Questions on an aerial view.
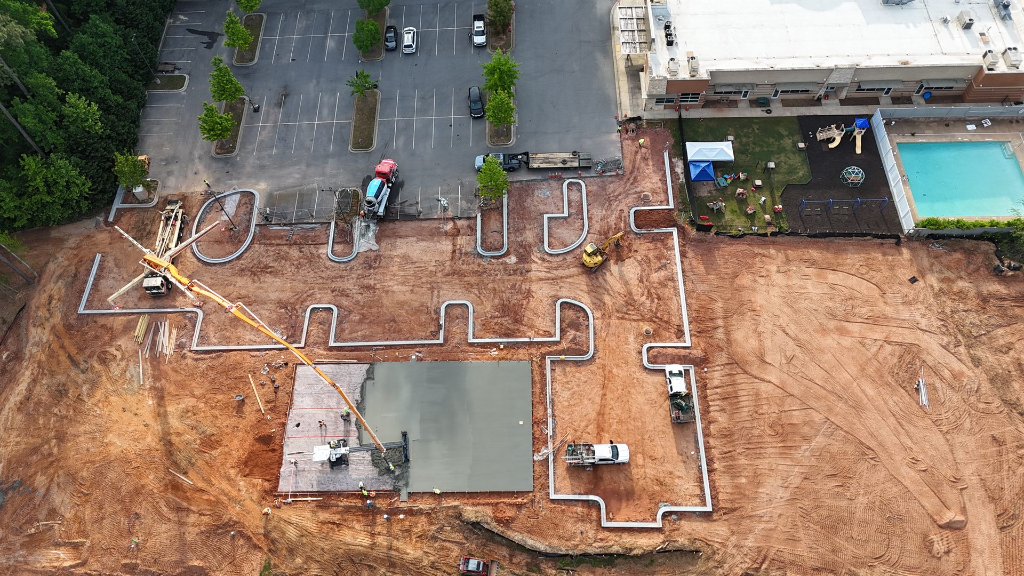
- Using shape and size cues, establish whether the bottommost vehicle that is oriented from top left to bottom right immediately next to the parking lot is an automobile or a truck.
truck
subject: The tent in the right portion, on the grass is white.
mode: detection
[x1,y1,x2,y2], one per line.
[683,141,734,168]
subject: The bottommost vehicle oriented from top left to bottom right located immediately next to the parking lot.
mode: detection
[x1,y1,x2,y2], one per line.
[108,199,390,463]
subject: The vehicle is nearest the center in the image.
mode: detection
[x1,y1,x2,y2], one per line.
[581,231,620,270]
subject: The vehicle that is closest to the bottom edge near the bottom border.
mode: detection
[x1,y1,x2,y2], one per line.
[458,556,501,576]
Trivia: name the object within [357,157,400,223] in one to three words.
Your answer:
truck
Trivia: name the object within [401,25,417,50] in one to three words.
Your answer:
car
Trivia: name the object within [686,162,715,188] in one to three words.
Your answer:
tent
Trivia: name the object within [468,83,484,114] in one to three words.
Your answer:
car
